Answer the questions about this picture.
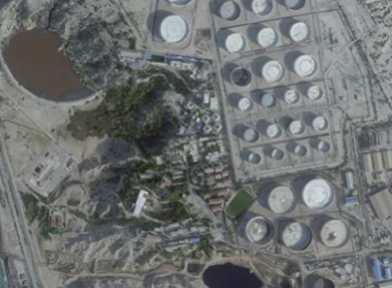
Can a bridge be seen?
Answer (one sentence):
No, I can't see a single bridge in this photo.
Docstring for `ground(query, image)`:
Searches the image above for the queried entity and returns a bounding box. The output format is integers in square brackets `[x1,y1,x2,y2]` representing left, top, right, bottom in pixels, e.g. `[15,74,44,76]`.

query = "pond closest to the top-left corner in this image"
[3,30,89,101]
